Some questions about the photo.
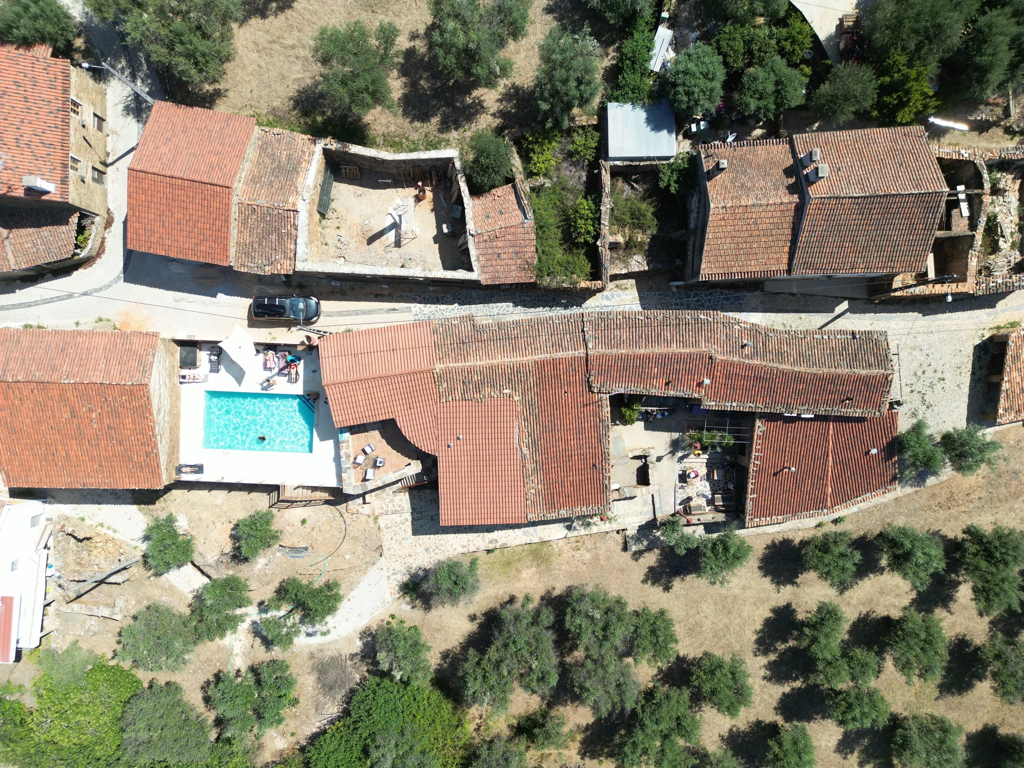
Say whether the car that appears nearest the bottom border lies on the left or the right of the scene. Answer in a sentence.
The car that appears nearest the bottom border sits on the left side.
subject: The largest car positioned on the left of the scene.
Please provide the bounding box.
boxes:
[247,291,323,325]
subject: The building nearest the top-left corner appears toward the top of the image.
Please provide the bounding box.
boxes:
[0,40,108,212]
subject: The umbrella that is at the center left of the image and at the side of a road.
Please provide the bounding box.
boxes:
[217,324,260,374]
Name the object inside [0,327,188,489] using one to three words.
building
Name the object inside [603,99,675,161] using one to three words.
shed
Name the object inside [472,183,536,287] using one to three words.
house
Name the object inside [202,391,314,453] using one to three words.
swimming pool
